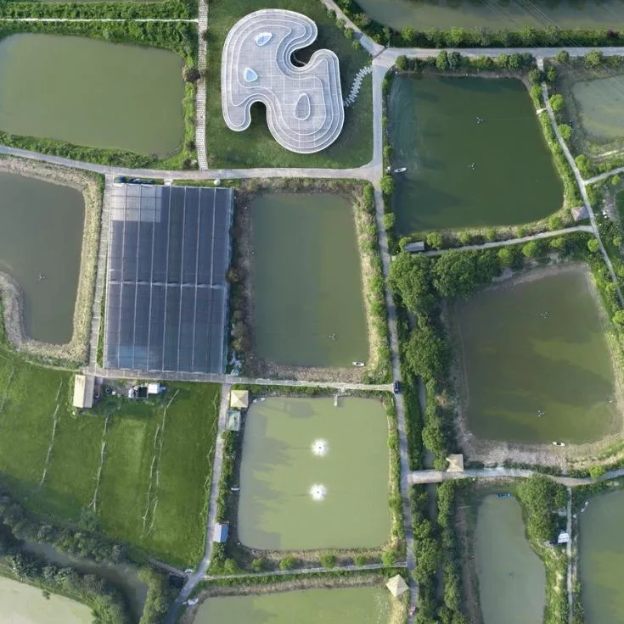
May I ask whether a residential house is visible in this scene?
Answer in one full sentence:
Yes, looking at the shot, I can spot a residential house.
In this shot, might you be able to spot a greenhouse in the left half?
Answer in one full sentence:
Yes, in the left half there is a greenhouse.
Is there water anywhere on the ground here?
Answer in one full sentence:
Yes, water shows up in the scene.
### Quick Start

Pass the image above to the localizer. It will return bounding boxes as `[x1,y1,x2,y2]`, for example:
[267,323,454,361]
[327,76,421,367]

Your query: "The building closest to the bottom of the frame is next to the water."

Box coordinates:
[385,571,410,596]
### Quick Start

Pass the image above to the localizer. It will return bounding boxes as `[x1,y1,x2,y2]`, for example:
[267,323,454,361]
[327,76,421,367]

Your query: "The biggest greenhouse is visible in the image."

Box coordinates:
[104,183,236,375]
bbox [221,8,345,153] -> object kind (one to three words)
building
